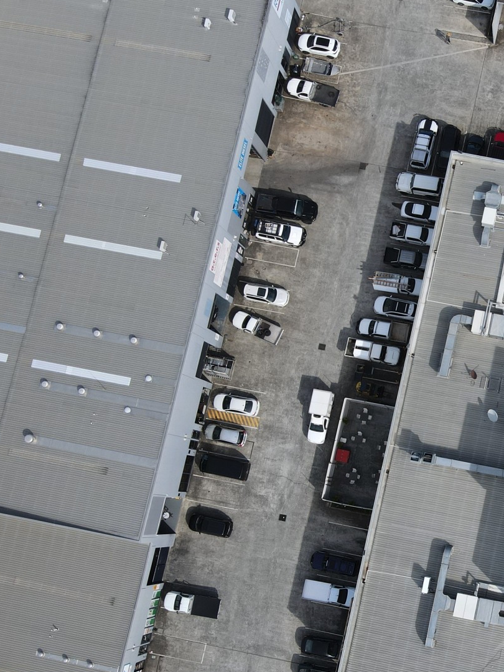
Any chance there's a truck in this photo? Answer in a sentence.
Yes, there's a truck here.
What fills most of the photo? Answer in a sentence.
The largest share of the image is taken up by buildings.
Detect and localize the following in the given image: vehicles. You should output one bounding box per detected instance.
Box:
[396,171,444,200]
[404,201,439,225]
[287,78,341,109]
[163,592,222,618]
[302,387,336,445]
[310,551,358,578]
[298,30,343,59]
[189,511,235,536]
[432,125,460,177]
[298,662,338,672]
[453,0,497,13]
[382,246,429,271]
[461,134,483,156]
[253,217,309,247]
[373,295,419,321]
[408,119,438,171]
[296,579,357,608]
[368,270,424,300]
[204,423,251,448]
[243,282,292,307]
[252,191,321,220]
[301,635,345,663]
[212,391,262,417]
[490,132,504,161]
[357,316,414,344]
[342,337,402,365]
[387,222,434,248]
[231,312,285,347]
[200,452,253,479]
